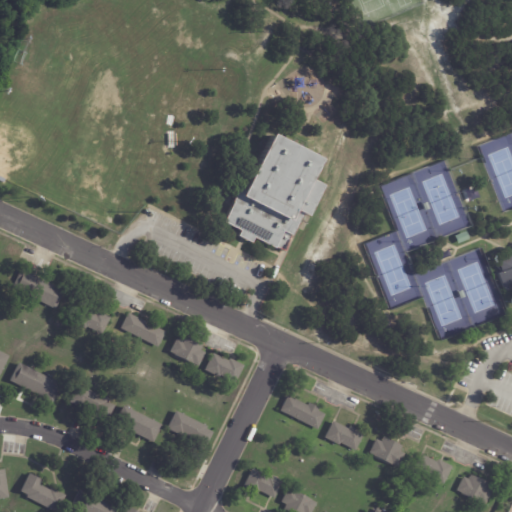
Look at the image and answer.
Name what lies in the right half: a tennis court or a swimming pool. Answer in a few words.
tennis court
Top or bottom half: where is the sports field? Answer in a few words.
top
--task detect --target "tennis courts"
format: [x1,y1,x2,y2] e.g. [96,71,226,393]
[382,176,438,252]
[412,163,469,238]
[448,250,501,323]
[416,264,472,336]
[366,232,420,305]
[353,0,391,22]
[480,132,512,212]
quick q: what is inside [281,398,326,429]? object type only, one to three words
house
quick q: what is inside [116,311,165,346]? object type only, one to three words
house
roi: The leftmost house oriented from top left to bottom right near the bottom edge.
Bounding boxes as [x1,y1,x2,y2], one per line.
[20,470,68,512]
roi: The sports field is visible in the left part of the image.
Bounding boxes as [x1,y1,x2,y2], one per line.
[0,2,240,230]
